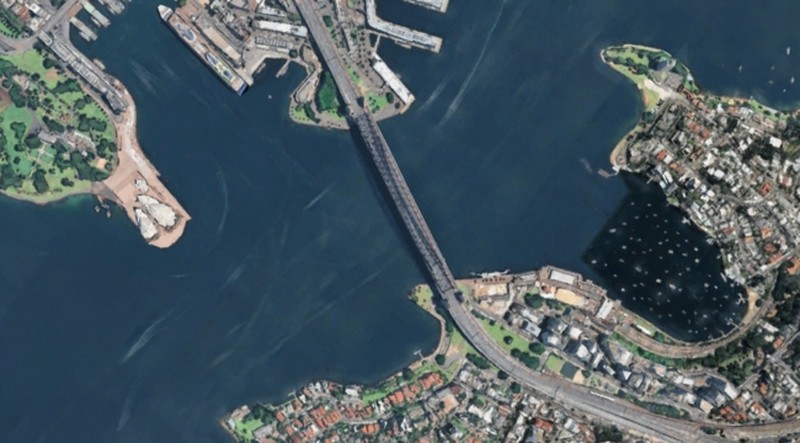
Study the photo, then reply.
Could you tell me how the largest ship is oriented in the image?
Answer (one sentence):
In this picture, the largest ship lies at an angle.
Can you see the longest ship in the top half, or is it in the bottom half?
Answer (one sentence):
The top half of the photo is where the longest ship is.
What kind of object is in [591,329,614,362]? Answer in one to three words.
building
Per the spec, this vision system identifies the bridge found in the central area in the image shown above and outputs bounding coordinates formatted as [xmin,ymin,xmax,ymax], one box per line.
[295,0,536,382]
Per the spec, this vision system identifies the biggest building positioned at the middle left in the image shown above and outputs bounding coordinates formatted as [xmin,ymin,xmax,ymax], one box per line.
[127,174,184,243]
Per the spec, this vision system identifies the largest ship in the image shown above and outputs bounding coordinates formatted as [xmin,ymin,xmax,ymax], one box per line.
[158,6,251,98]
